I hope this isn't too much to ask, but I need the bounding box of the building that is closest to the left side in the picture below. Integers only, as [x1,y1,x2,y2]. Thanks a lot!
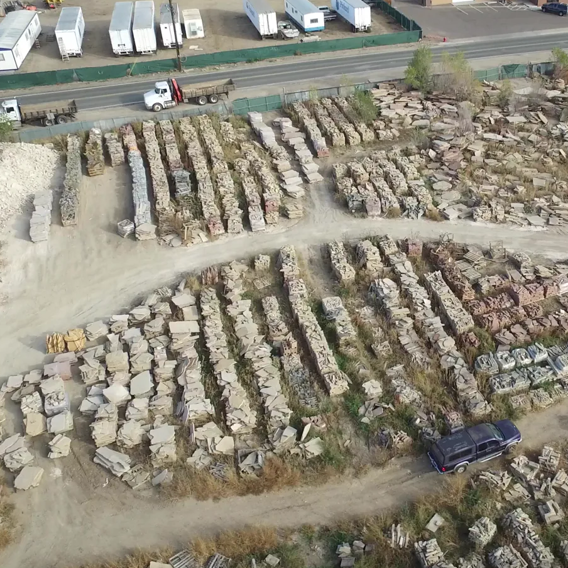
[0,11,42,72]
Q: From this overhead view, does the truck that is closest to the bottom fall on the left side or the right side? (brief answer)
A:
right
